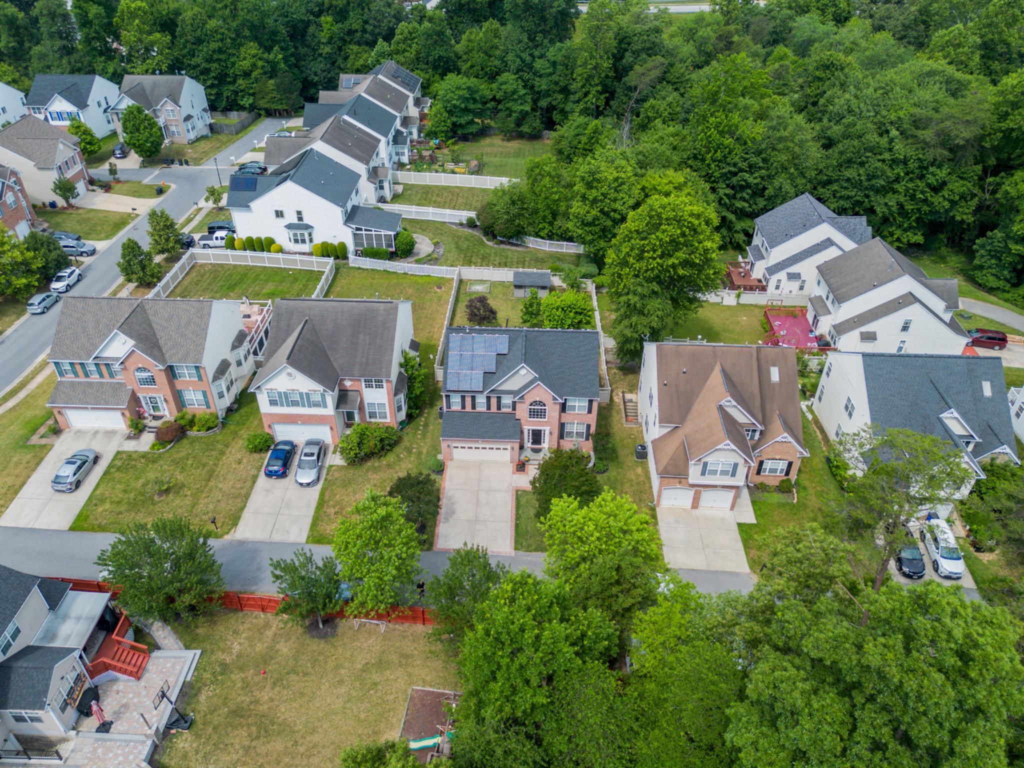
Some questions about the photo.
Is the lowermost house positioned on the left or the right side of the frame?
left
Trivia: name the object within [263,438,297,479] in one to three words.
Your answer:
car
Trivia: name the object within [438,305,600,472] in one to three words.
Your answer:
house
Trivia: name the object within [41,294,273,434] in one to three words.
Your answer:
house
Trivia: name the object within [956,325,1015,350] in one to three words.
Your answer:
car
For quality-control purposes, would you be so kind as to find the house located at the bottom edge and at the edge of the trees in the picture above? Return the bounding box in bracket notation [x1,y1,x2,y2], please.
[0,563,152,760]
